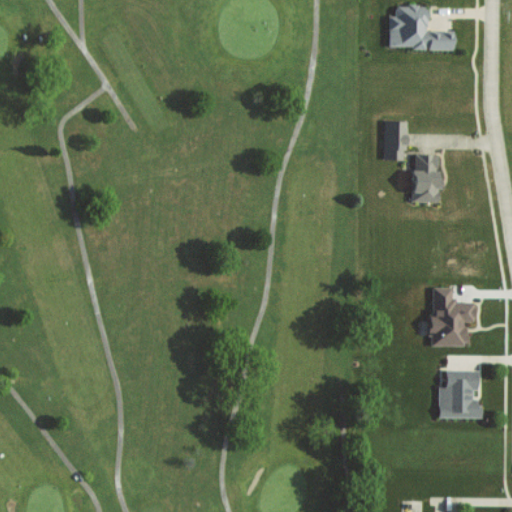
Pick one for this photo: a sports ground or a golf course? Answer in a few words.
golf course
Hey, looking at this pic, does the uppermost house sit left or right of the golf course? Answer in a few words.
on its right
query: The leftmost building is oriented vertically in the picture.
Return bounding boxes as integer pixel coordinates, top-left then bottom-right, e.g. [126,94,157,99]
[384,120,400,161]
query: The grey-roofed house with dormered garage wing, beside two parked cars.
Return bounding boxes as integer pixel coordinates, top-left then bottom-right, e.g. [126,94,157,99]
[390,3,458,52]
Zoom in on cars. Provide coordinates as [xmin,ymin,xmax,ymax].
[462,284,467,296]
[438,8,450,14]
[452,8,464,14]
